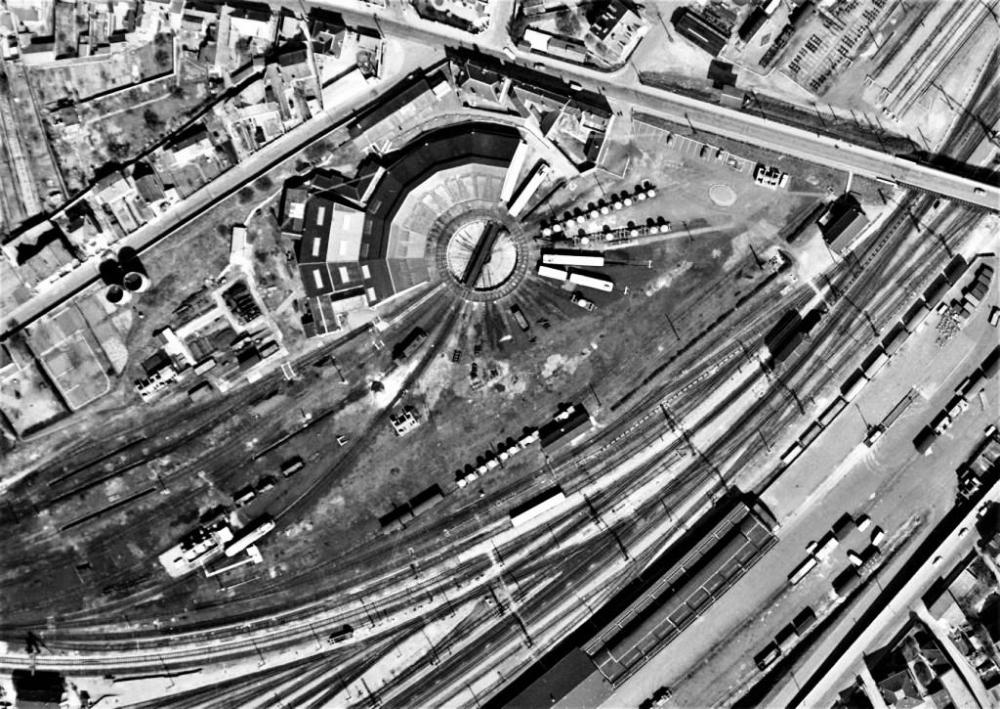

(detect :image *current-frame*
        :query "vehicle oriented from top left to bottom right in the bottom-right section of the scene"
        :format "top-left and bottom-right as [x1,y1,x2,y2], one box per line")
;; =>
[848,553,864,566]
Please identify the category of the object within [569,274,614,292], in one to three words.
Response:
vehicle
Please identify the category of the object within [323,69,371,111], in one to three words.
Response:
building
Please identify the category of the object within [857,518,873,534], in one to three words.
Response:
vehicle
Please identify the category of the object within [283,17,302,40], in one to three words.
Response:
house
